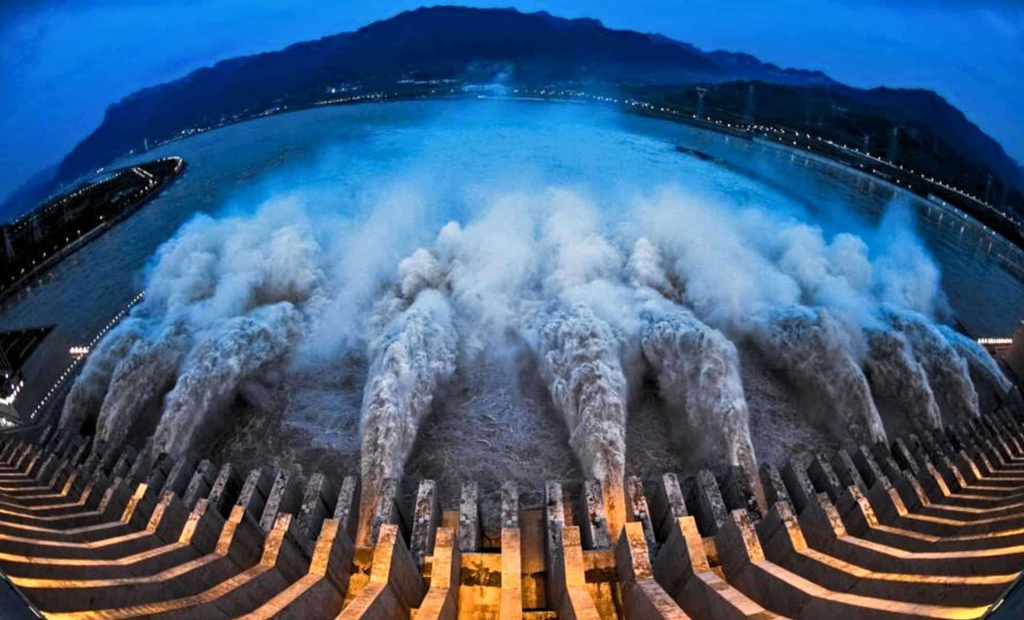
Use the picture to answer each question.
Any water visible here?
Yes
